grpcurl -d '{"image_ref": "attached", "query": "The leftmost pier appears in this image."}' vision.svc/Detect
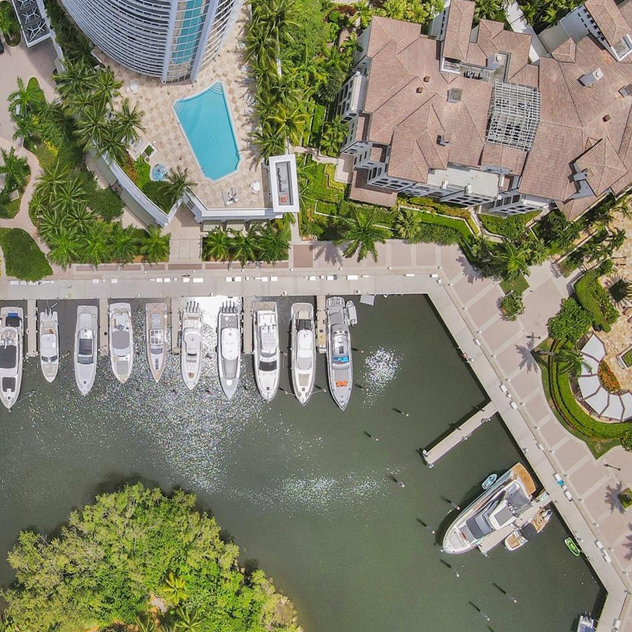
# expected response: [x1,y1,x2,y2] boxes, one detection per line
[26,298,39,357]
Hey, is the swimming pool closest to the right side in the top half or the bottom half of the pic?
top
